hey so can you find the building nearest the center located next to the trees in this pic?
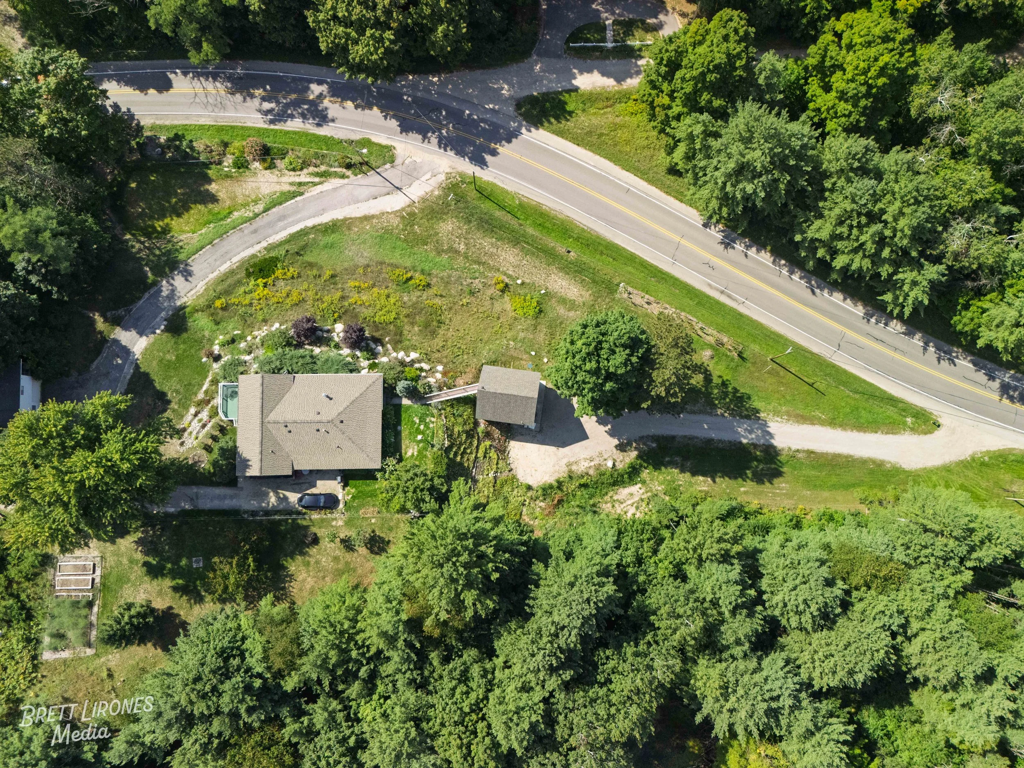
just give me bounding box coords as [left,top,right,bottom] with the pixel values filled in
[476,365,541,425]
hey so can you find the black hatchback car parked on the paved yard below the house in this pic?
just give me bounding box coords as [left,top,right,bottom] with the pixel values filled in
[298,492,339,511]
